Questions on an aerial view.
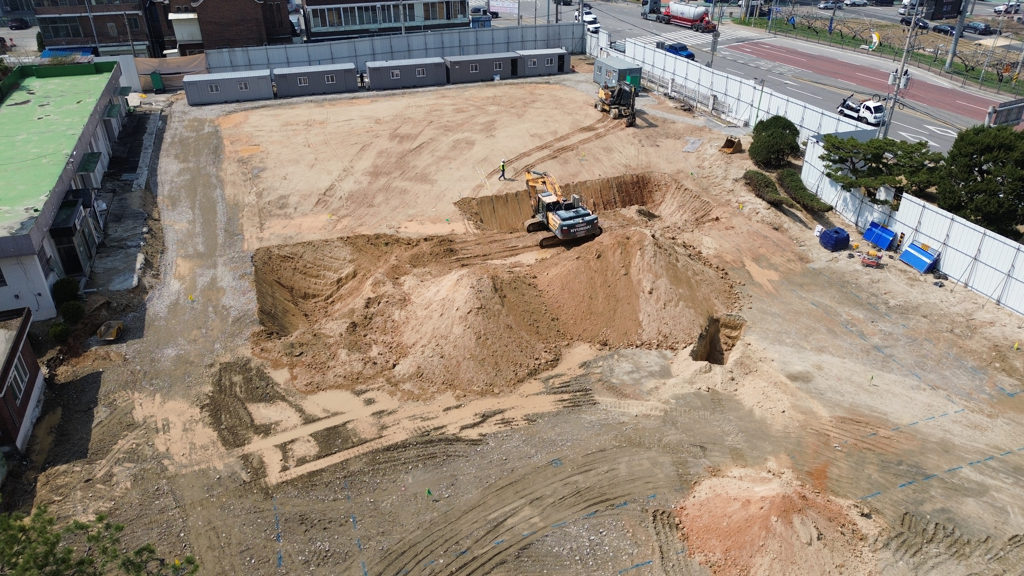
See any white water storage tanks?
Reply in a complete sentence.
No, the scene contains no white water storage tank.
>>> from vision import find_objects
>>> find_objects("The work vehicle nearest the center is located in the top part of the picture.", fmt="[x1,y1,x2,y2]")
[521,166,601,248]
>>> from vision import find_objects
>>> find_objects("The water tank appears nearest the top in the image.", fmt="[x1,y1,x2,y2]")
[821,227,853,253]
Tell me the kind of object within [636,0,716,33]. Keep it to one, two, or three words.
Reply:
truck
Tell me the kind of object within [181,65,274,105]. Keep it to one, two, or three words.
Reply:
building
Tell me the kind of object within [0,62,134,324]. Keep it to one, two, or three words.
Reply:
building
